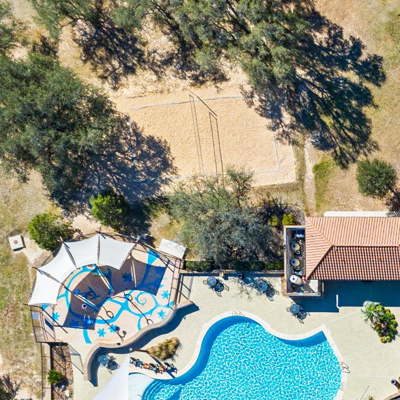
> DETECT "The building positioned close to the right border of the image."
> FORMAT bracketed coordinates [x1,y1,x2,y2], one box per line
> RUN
[304,217,400,284]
